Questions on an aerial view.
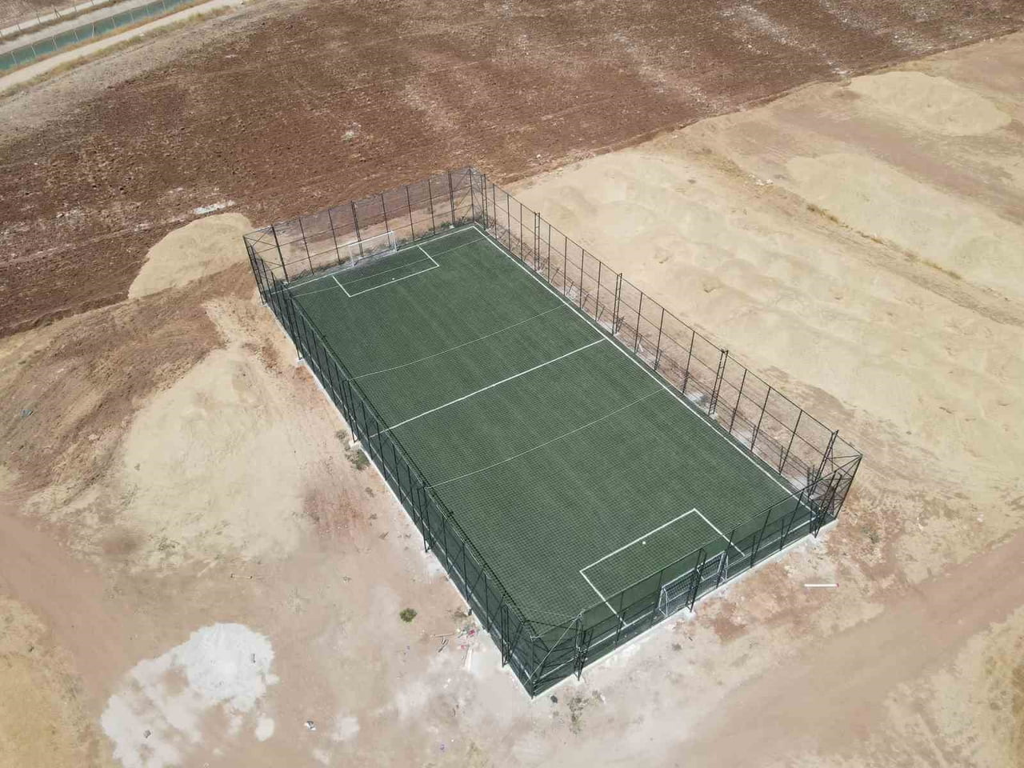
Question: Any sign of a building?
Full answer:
No, I can see no building in this picture.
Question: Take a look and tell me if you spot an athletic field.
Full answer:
Yes, the photo shows an athletic field.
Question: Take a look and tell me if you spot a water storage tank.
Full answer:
No, I can see no water storage tank in this picture.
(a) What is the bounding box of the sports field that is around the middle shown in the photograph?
[266,222,833,696]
